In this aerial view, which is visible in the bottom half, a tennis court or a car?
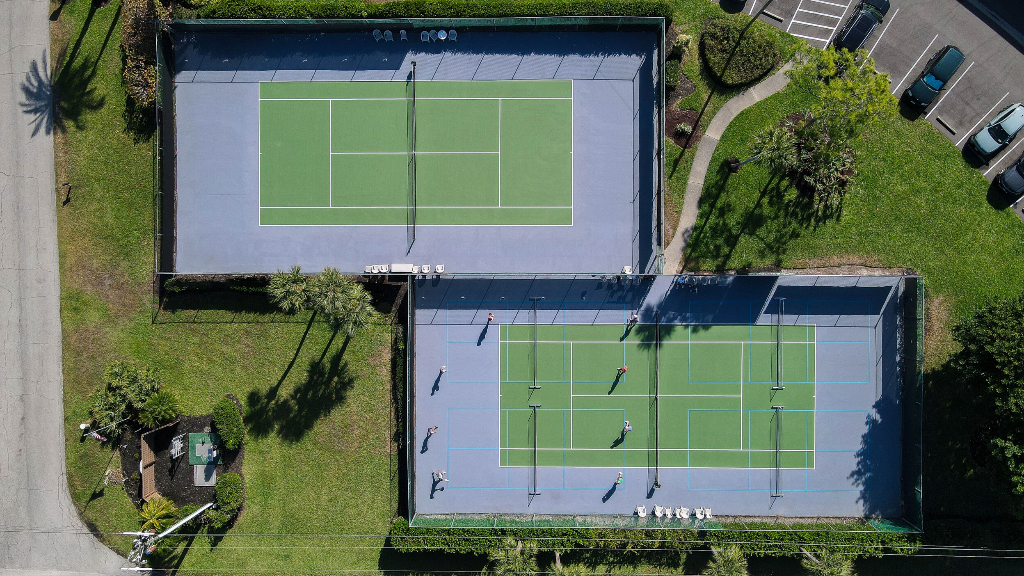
tennis court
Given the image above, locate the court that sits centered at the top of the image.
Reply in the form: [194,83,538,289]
[175,30,658,274]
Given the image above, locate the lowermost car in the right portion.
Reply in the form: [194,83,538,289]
[992,143,1024,193]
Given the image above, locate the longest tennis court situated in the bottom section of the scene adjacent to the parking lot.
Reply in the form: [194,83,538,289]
[416,275,902,518]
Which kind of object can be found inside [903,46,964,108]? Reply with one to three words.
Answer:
car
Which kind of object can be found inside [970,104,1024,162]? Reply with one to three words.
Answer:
car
